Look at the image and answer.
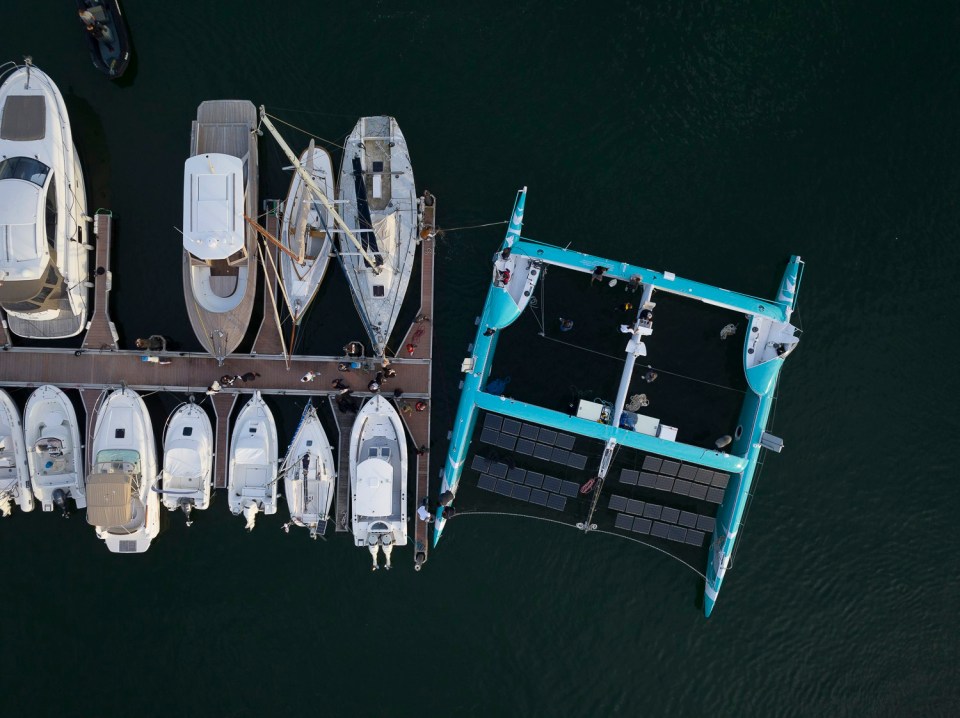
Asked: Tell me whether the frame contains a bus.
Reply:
No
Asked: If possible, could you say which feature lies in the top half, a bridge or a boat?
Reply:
boat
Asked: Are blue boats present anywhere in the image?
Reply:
Yes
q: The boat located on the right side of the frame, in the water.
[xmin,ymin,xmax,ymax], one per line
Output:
[434,186,804,617]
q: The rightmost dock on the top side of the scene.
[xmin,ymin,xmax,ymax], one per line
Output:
[396,197,436,358]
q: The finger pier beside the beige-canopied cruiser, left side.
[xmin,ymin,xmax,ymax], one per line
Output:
[79,389,110,478]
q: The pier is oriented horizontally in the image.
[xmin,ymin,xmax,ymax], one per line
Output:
[0,346,432,398]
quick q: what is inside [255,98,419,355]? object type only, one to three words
boat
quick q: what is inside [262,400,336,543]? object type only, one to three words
boat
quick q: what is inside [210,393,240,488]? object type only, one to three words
pier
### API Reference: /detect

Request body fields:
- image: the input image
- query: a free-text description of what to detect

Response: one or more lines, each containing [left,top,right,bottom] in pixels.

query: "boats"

[262,400,336,543]
[230,388,279,531]
[0,54,92,338]
[84,381,163,553]
[255,98,419,355]
[24,385,87,523]
[243,139,337,370]
[149,396,217,528]
[351,393,409,573]
[0,385,36,537]
[173,100,262,366]
[434,186,804,617]
[76,0,129,80]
